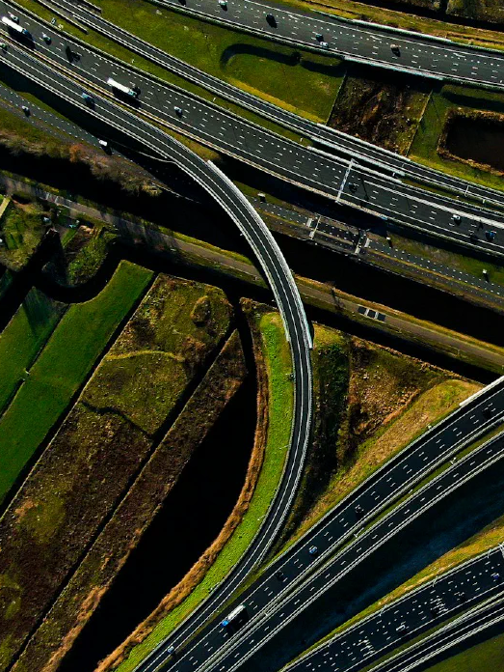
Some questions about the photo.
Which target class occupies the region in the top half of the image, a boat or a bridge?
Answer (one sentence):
What appears in the top half of the image is a bridge.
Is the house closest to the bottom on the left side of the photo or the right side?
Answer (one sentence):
The house closest to the bottom sits on the left side.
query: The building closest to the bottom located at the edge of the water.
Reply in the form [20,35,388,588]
[40,229,62,256]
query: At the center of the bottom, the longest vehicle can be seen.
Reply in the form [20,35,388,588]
[220,603,247,627]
